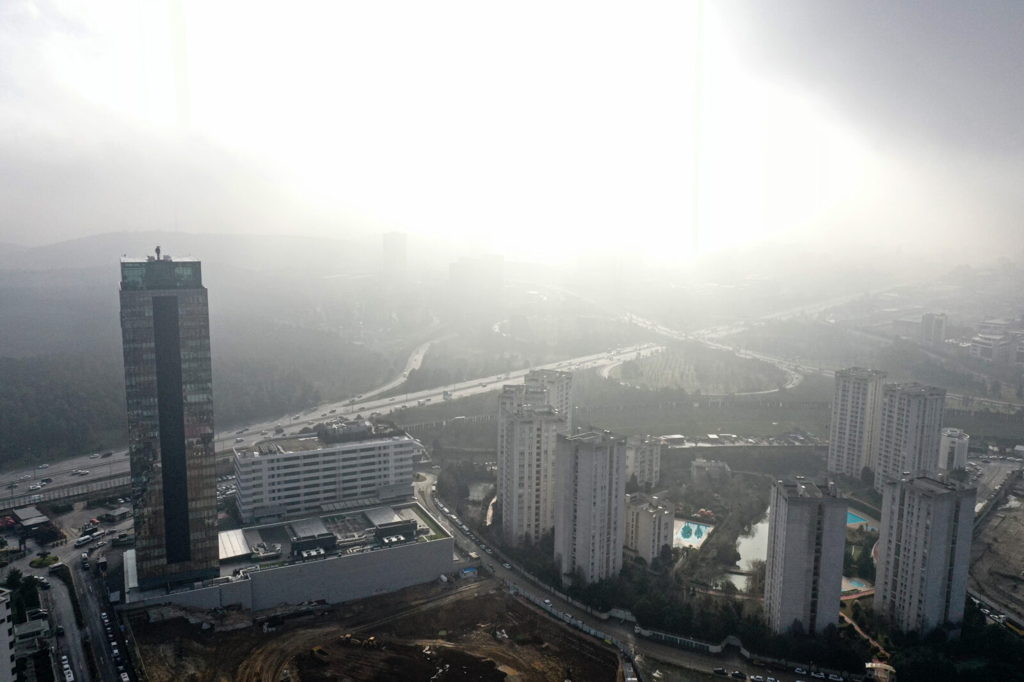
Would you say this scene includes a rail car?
No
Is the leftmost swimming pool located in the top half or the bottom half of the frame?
bottom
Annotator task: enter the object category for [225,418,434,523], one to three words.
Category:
building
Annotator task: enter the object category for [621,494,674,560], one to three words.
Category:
building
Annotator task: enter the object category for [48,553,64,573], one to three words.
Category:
vehicle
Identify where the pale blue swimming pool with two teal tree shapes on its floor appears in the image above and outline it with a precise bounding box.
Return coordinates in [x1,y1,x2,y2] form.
[675,521,711,544]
